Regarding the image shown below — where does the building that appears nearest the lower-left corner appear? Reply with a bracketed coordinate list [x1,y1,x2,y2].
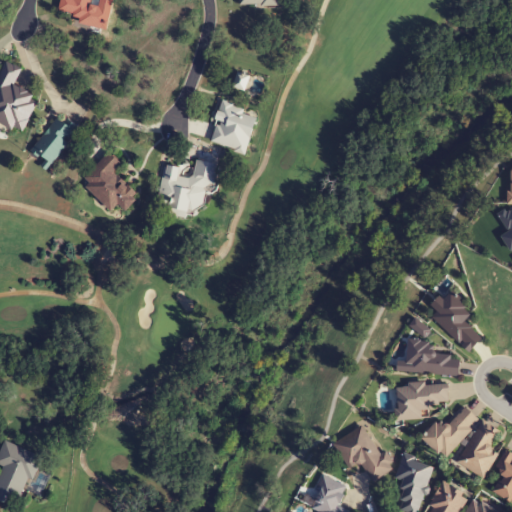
[0,441,40,498]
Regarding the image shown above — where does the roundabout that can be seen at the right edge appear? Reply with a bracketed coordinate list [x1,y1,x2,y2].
[473,354,512,424]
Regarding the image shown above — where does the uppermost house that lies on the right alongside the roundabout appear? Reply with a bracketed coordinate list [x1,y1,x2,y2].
[433,292,485,352]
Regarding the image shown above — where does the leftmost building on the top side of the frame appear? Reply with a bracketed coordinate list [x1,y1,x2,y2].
[0,61,34,132]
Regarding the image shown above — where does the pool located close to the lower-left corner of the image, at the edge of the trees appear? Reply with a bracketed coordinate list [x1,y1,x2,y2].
[28,470,50,492]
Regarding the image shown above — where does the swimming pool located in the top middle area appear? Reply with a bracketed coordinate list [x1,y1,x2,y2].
[238,70,266,99]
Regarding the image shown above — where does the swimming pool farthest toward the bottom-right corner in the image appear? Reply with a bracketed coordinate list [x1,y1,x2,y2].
[378,384,396,413]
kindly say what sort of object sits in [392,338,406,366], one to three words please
swimming pool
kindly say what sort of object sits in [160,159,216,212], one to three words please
house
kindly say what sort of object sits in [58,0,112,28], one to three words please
house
